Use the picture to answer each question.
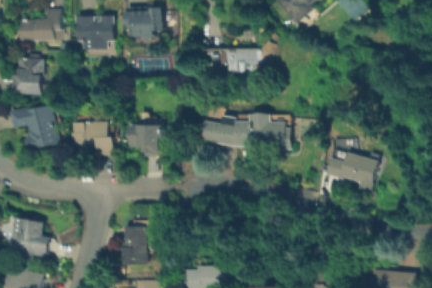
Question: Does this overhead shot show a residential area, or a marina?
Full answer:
This looks like a residential area.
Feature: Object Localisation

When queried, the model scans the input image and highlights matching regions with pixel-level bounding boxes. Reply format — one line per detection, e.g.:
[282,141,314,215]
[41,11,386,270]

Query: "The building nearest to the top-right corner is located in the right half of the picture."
[339,0,370,22]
